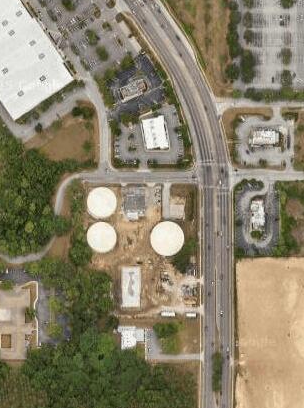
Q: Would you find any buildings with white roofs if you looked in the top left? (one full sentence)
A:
Yes, a building with a white roof shows up in the top left.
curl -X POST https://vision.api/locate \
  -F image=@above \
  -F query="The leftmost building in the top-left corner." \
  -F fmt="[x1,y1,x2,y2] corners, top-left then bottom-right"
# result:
[0,0,73,121]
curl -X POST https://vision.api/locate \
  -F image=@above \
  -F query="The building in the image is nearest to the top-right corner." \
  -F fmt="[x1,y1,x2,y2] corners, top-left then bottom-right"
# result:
[253,130,277,145]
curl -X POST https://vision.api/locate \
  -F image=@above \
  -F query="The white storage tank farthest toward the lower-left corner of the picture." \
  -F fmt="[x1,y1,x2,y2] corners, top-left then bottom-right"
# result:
[87,222,117,253]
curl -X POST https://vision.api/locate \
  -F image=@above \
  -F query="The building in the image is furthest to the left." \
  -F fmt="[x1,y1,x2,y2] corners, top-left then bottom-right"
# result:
[0,289,33,359]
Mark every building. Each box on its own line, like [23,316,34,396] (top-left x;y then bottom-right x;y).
[0,0,73,121]
[121,266,141,307]
[253,130,277,145]
[142,115,169,149]
[170,205,185,219]
[120,79,148,102]
[0,289,33,359]
[118,326,145,348]
[127,194,145,212]
[250,201,266,227]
